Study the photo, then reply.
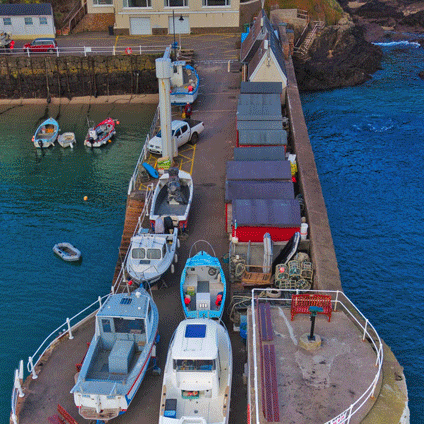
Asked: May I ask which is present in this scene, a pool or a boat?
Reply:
boat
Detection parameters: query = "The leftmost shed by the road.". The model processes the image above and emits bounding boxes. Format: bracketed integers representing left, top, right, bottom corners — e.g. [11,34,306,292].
[0,1,63,36]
